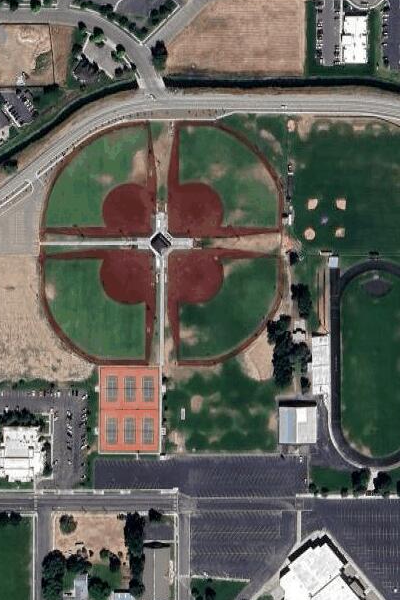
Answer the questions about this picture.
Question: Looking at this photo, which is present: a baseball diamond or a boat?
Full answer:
It is a baseball diamond that can be seen here.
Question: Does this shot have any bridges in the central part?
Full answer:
No, I see no bridge in the central part.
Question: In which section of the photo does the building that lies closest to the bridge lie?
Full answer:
The building that lies closest to the bridge is in the top left part of the image.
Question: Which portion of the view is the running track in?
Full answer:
The running track is in the right part of the image.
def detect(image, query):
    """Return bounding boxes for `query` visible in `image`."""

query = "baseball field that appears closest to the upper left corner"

[42,120,157,236]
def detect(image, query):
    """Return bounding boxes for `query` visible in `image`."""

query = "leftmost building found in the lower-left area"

[0,424,48,483]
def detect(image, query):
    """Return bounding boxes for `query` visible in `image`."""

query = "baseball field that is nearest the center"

[169,251,282,361]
